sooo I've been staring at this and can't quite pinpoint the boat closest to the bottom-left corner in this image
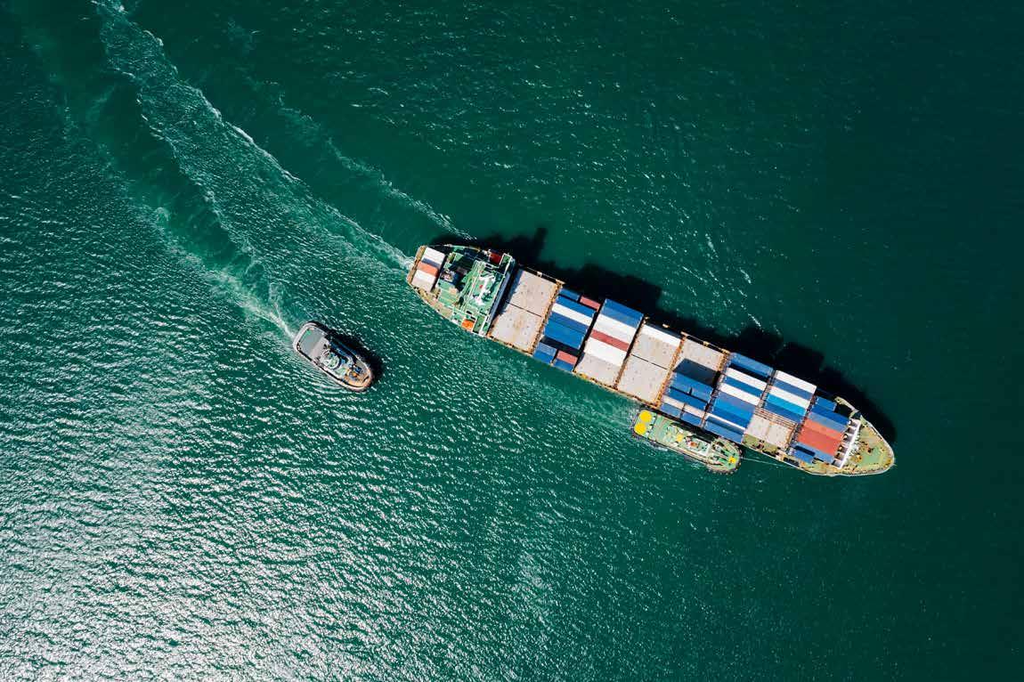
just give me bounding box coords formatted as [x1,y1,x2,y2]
[293,321,373,392]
